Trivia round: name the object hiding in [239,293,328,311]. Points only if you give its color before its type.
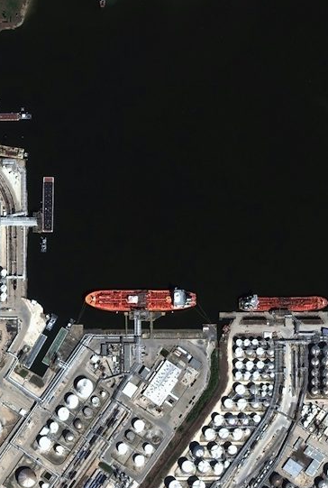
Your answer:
red ship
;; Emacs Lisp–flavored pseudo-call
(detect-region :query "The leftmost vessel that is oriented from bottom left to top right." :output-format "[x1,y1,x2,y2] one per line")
[24,335,47,369]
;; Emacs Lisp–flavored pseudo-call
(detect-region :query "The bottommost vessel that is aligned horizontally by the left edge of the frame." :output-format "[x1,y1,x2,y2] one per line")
[0,147,25,159]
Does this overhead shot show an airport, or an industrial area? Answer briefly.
industrial area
